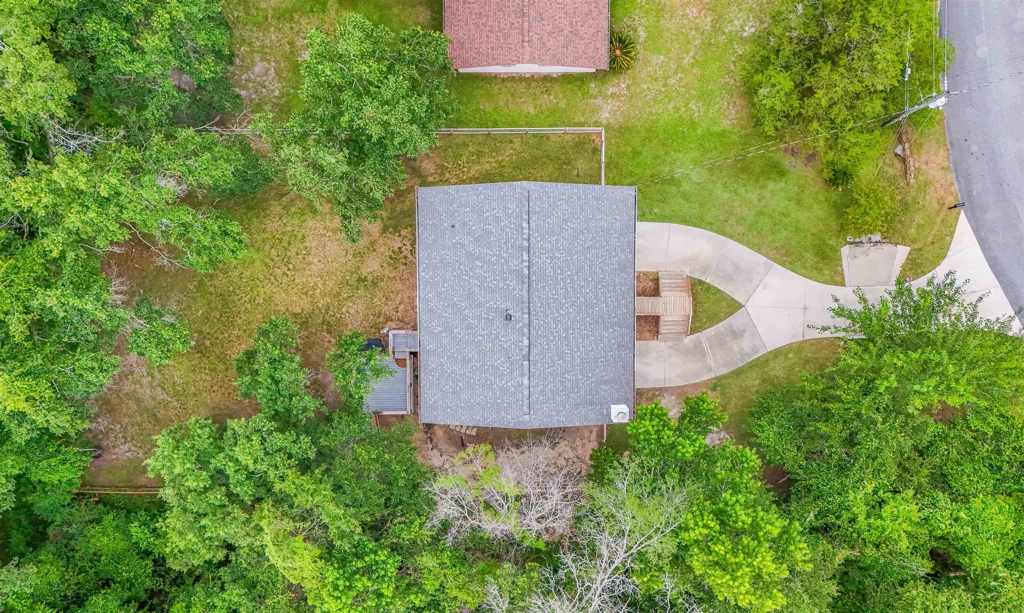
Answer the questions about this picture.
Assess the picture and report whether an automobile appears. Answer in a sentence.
No, the photo shows no automobile.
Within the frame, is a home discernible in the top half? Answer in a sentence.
Yes, the scene does show a home in the top half.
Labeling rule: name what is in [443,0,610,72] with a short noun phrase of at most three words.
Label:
house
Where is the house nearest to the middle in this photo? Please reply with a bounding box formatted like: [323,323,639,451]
[416,181,638,429]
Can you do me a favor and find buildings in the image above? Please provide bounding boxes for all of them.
[416,181,638,429]
[443,0,610,72]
